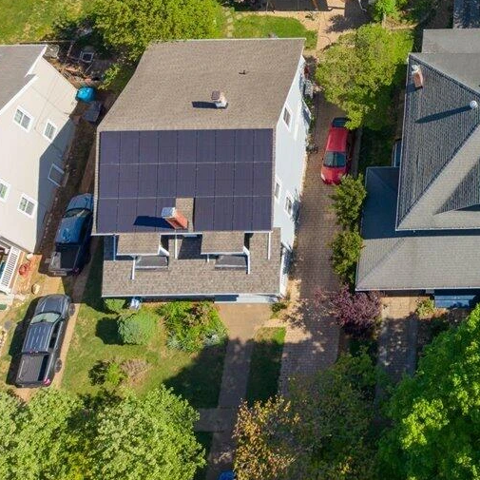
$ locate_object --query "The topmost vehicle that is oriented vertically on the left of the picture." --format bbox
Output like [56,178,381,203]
[43,185,95,281]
